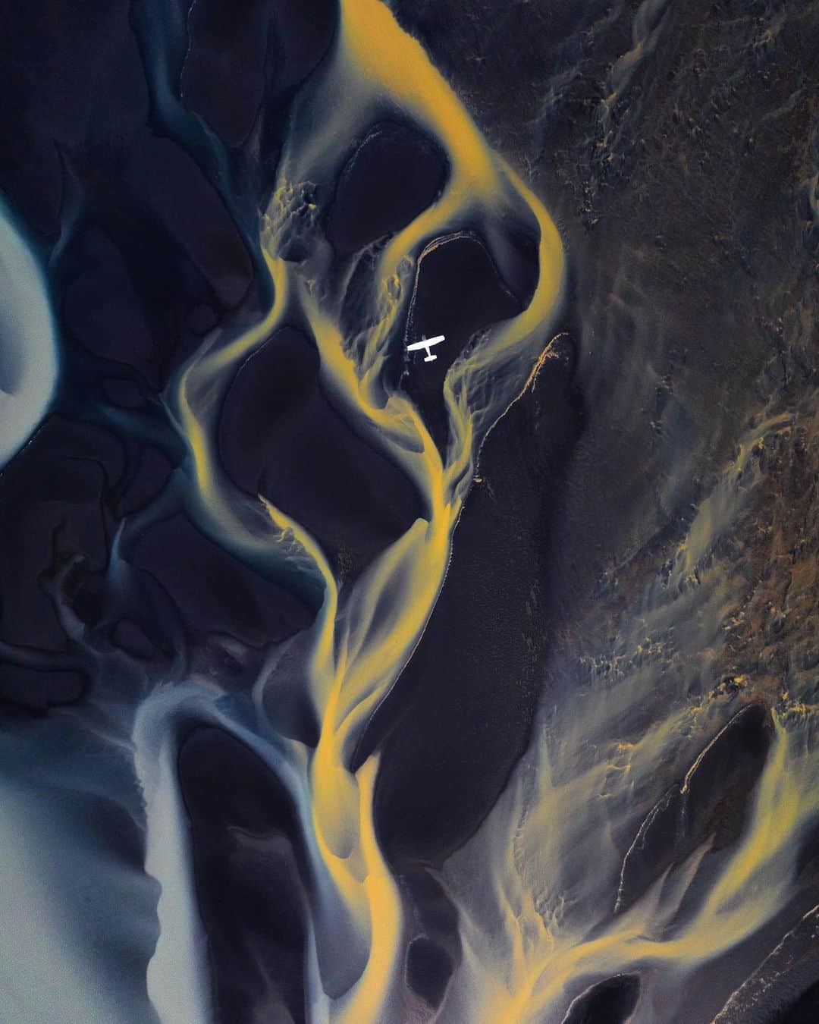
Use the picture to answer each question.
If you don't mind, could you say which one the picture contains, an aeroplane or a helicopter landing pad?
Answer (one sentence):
Visible in the photo is an aeroplane.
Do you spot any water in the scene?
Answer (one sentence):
Yes, water can be seen from above here.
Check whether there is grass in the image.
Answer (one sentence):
No, no grass is visible.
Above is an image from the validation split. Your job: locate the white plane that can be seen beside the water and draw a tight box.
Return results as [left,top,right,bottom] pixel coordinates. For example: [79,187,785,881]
[407,337,446,366]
